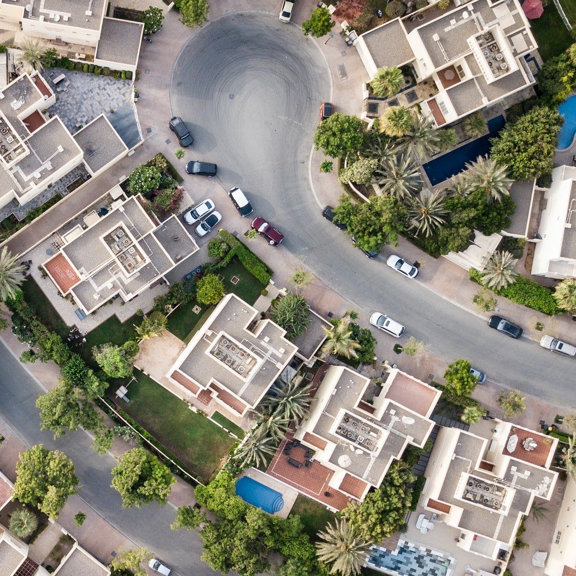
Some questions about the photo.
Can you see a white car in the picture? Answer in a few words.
Yes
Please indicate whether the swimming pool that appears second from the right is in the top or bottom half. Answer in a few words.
top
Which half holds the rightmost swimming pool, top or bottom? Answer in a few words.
top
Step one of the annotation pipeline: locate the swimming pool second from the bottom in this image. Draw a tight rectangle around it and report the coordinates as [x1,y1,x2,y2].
[231,471,289,514]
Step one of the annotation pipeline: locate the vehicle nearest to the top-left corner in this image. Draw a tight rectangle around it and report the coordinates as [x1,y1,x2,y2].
[169,117,193,148]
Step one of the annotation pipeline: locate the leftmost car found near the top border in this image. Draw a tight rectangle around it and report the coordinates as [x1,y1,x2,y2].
[276,0,298,25]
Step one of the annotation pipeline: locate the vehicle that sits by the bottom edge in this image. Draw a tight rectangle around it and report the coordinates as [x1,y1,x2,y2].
[146,556,176,576]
